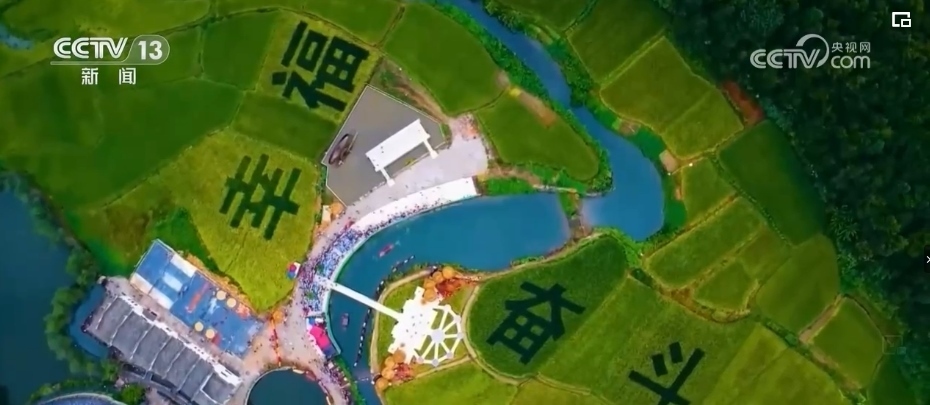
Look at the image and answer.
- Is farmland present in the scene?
Yes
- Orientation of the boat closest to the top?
on a diagonal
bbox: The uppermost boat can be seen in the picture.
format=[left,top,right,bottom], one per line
[323,129,354,169]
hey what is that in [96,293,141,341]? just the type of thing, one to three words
house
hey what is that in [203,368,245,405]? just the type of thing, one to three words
house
